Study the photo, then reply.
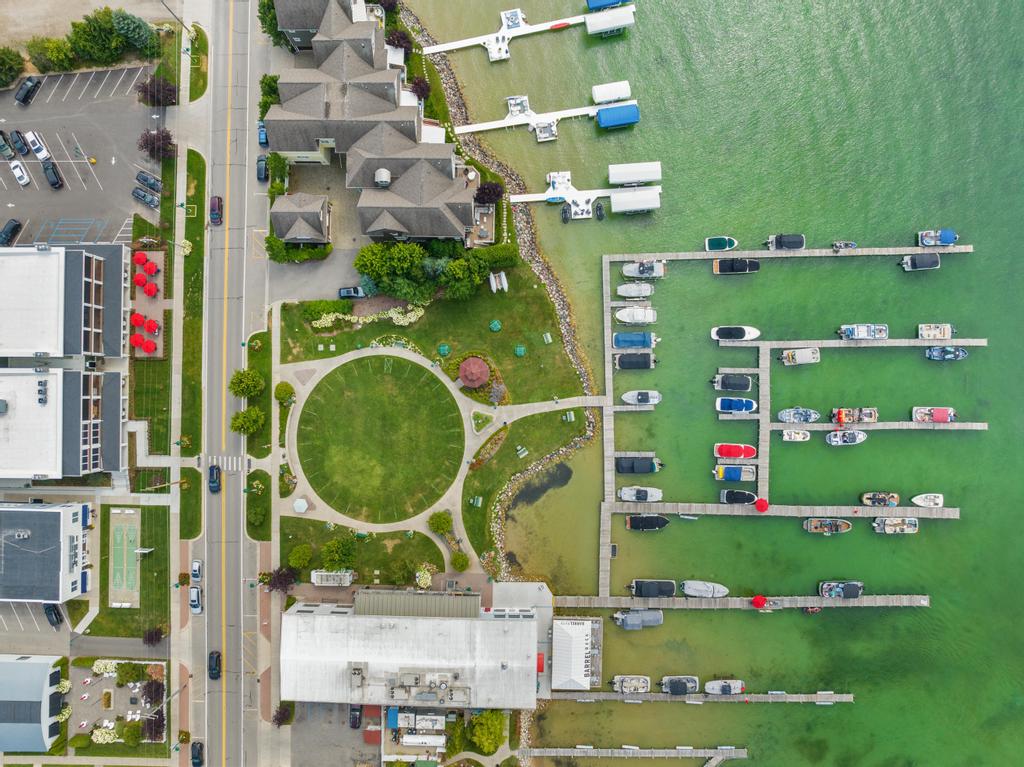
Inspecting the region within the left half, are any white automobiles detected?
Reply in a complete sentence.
Yes, within the left half there is a white automobile.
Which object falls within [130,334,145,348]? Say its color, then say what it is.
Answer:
red umbrella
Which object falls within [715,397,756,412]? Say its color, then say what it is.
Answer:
blue boat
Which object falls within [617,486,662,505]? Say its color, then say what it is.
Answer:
white boat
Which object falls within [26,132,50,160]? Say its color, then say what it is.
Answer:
white car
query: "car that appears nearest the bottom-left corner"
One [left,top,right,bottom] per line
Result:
[42,602,66,629]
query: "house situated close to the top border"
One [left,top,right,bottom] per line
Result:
[262,0,495,245]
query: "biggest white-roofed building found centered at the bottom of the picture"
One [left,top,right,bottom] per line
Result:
[278,586,537,708]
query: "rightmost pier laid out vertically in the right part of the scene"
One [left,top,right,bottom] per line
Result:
[755,346,772,507]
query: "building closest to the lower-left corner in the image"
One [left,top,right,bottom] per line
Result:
[0,651,67,753]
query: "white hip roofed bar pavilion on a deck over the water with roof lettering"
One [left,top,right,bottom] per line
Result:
[551,616,604,693]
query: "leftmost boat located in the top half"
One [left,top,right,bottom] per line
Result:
[491,271,507,292]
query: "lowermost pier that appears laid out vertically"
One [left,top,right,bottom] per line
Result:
[597,511,613,598]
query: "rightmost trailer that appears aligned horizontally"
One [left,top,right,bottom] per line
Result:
[403,728,447,747]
